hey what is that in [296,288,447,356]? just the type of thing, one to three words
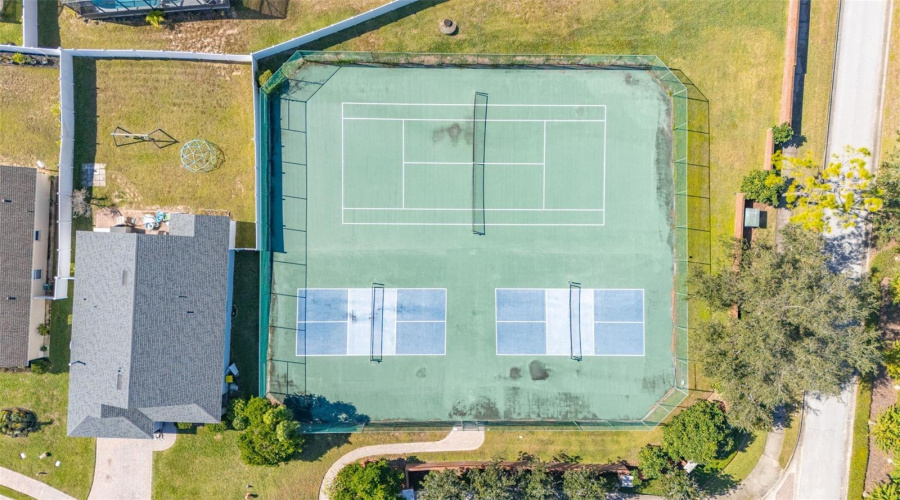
sports court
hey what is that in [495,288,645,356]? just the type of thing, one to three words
sports court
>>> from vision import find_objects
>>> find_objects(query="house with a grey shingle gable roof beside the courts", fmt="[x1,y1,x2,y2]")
[66,214,237,438]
